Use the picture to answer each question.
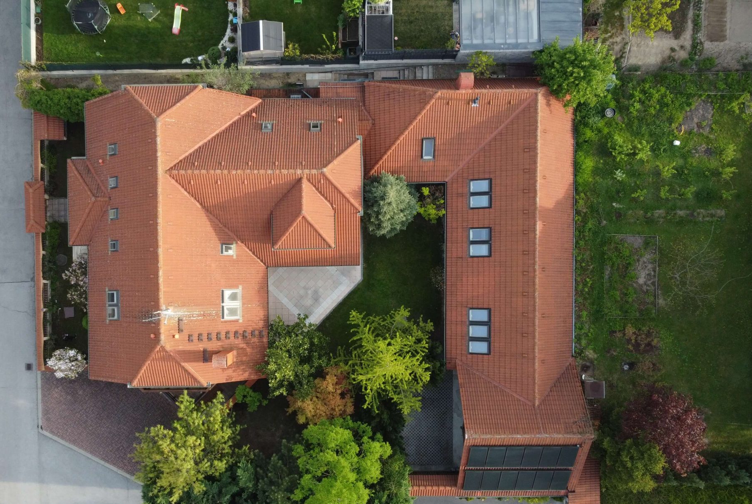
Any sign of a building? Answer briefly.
Yes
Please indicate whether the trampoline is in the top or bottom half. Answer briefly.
top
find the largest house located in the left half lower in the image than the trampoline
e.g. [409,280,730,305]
[66,83,365,401]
